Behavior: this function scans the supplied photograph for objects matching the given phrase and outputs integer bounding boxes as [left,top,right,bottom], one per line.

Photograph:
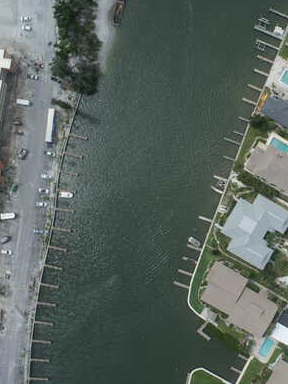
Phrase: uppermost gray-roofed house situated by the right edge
[263,96,288,129]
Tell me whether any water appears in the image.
Yes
